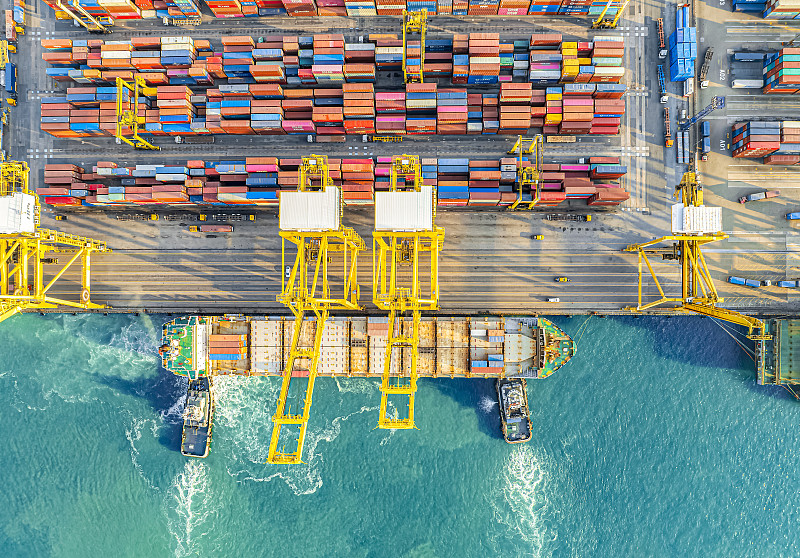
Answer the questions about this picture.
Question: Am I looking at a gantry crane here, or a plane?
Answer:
gantry crane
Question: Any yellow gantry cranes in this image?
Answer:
Yes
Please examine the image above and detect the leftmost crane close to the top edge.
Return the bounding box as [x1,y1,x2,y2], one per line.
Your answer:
[63,0,112,35]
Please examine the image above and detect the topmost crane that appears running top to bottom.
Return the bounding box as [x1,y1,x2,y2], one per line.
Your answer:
[399,7,429,91]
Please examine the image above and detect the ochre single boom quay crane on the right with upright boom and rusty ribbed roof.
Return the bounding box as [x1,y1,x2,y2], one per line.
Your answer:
[620,172,788,353]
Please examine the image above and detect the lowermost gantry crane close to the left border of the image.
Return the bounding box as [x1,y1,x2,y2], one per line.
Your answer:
[0,162,102,317]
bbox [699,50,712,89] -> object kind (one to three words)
vehicle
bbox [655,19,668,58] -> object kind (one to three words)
vehicle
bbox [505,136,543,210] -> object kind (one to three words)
crane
